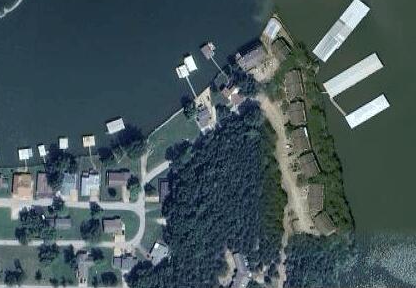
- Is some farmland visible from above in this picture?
No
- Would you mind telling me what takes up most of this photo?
water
